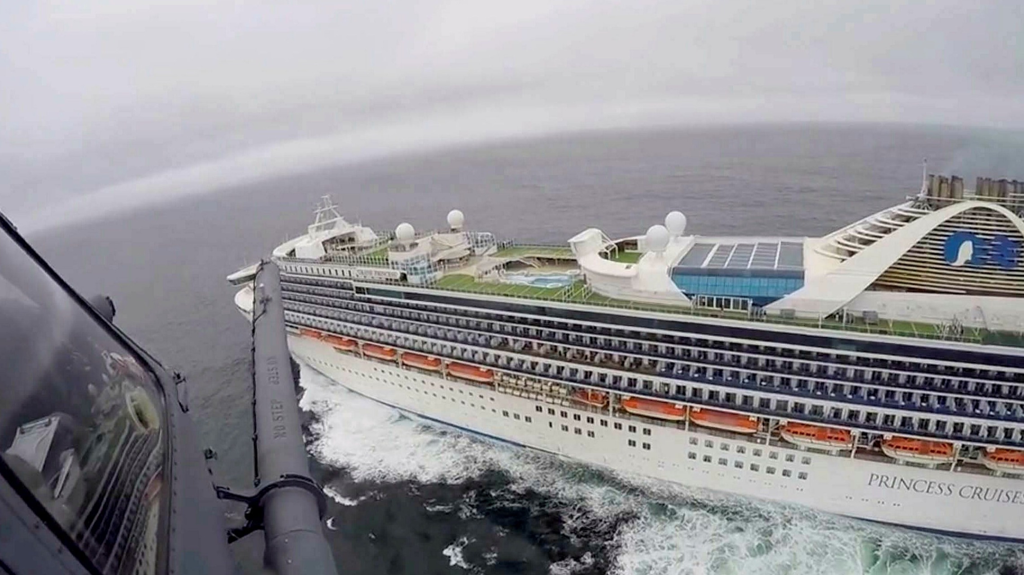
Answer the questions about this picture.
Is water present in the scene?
Yes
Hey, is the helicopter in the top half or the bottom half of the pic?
bottom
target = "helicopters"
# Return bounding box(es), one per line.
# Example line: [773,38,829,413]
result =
[0,209,337,575]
